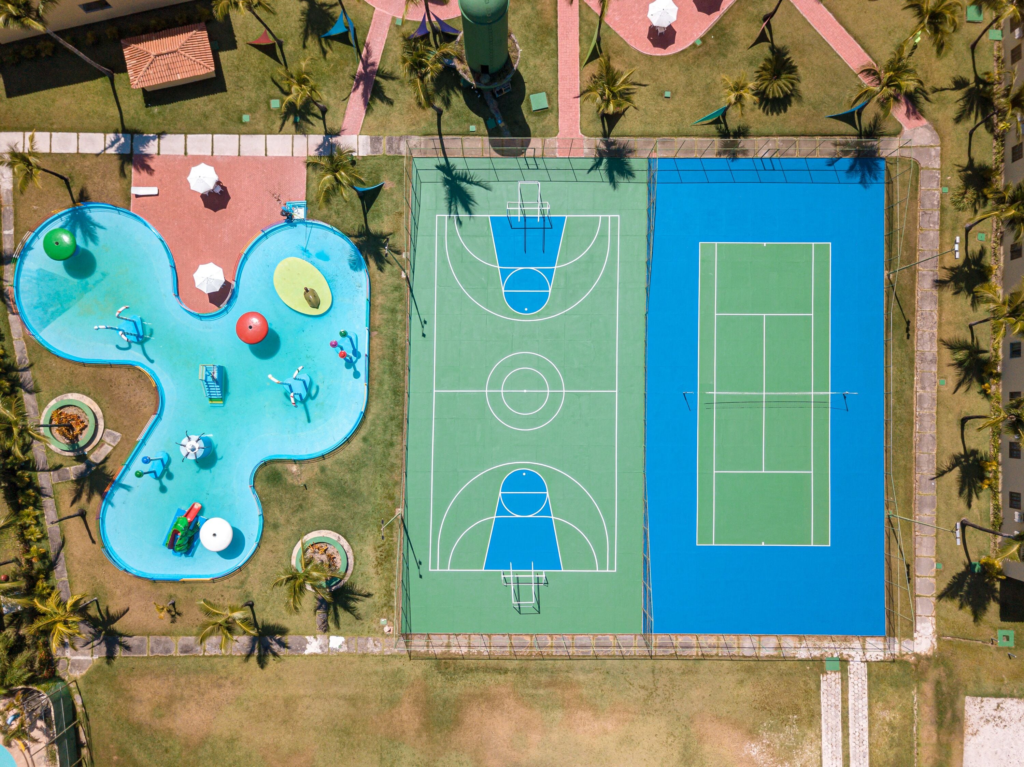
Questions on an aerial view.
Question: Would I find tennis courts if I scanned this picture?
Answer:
Yes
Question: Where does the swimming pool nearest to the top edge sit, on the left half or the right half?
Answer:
left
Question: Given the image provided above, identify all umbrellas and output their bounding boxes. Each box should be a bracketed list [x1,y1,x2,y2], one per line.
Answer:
[195,263,228,295]
[188,164,219,195]
[646,0,677,31]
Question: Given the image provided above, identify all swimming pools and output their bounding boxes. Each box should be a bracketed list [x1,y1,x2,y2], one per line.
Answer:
[14,202,371,581]
[0,747,16,767]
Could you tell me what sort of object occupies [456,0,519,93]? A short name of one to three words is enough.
water tower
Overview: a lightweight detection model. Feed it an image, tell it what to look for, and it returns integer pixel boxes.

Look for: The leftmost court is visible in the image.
[398,155,647,634]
